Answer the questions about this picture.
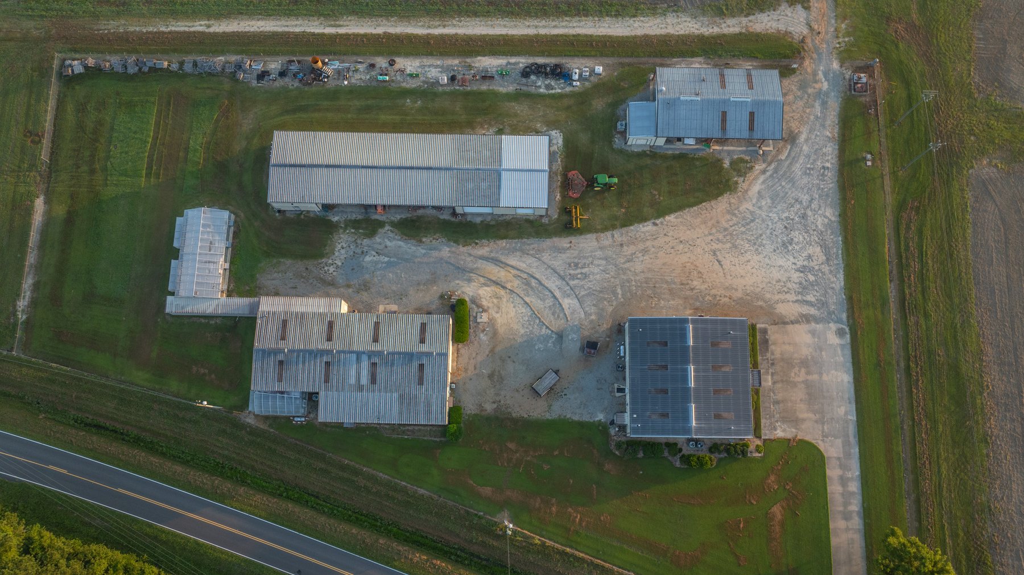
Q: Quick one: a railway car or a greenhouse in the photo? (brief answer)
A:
greenhouse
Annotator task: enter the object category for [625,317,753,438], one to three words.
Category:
building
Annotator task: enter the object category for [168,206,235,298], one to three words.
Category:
greenhouse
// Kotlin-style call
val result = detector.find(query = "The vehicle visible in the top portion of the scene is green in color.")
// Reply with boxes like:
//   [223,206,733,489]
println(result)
[596,173,617,188]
